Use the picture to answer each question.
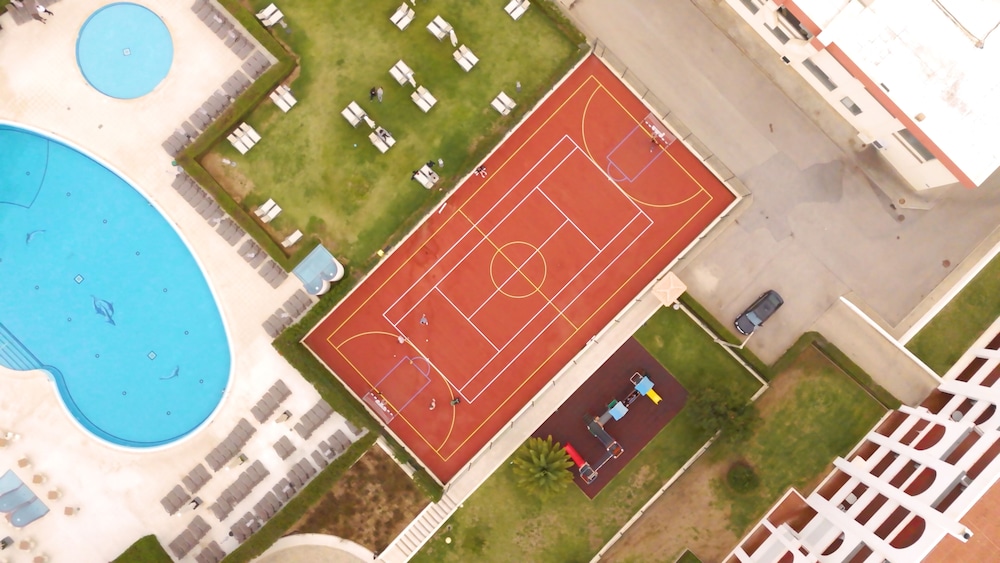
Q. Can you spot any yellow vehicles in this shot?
No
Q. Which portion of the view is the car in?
right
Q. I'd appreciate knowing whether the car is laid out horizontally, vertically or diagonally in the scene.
diagonally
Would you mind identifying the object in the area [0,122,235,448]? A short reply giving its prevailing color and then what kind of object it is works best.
blue swimming pool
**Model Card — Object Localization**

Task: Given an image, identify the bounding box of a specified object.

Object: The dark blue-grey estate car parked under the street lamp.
[734,288,784,335]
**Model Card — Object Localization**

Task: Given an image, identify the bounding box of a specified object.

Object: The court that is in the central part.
[303,54,736,484]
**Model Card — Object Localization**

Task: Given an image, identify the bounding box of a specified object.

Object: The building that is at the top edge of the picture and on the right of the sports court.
[728,0,1000,191]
